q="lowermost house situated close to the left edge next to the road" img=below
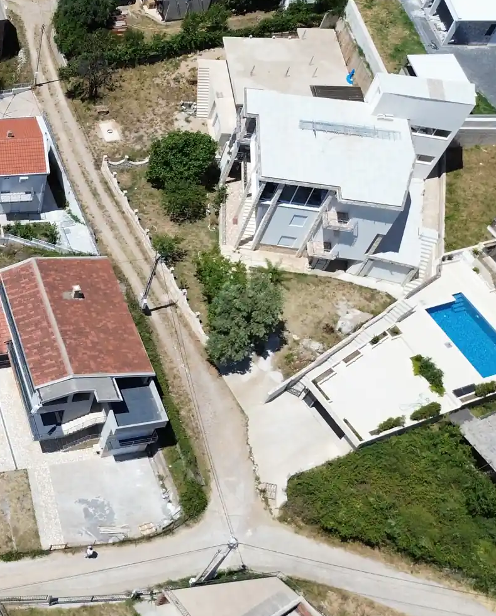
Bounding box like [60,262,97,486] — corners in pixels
[0,256,170,461]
